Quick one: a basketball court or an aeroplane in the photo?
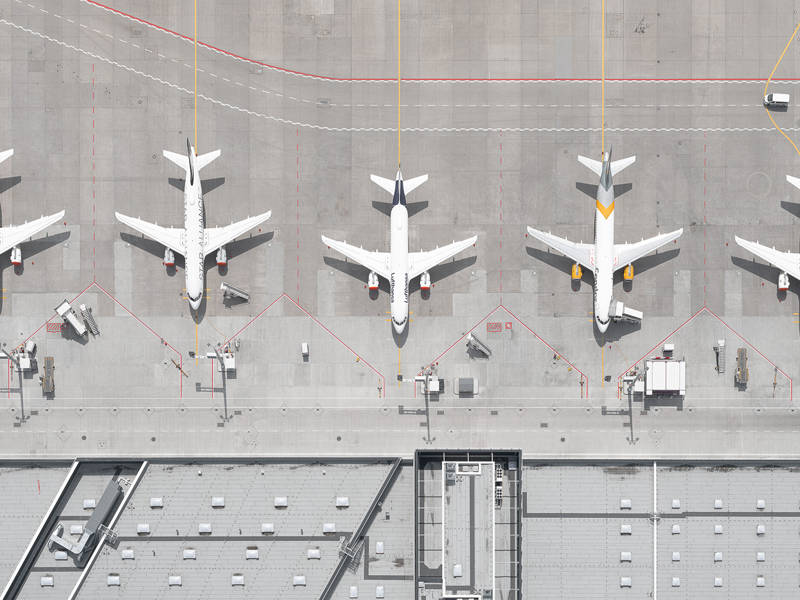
aeroplane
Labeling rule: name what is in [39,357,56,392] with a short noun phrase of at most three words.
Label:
work vehicle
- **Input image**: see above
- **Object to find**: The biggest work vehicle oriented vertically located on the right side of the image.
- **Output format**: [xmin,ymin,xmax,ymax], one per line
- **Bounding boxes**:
[733,348,748,383]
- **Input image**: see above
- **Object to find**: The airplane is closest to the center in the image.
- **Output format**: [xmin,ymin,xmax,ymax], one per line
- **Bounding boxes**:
[321,162,477,334]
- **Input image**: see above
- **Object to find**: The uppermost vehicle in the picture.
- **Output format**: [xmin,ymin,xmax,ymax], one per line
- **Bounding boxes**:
[765,92,791,105]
